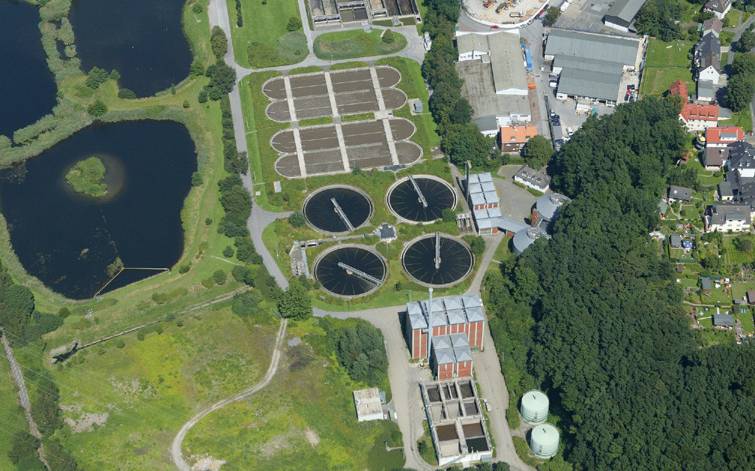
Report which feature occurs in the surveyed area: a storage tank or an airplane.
storage tank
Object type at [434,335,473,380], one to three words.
building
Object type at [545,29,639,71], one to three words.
building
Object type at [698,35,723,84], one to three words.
house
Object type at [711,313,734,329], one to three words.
shed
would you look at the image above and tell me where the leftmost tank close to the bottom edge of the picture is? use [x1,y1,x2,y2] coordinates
[422,376,493,464]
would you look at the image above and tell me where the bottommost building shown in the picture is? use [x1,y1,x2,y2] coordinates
[353,387,383,420]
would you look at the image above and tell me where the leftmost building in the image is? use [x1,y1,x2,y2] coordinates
[282,231,307,278]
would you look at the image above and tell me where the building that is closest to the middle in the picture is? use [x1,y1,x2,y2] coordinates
[375,226,399,244]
